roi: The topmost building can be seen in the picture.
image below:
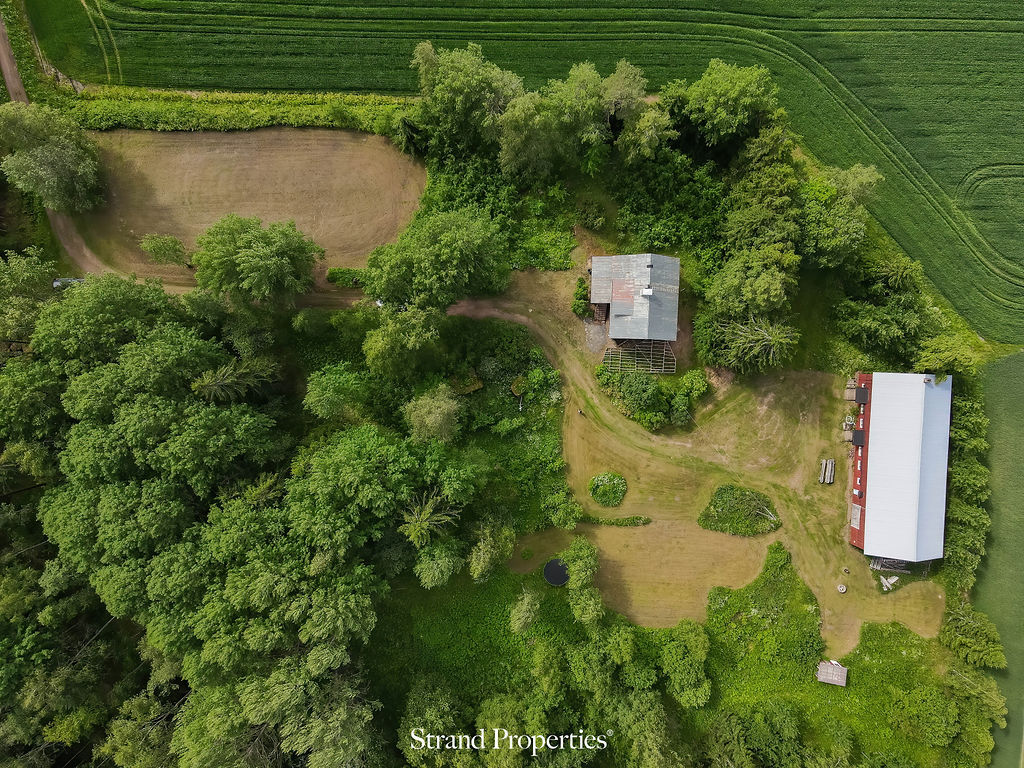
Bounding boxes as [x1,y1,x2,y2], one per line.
[590,253,679,342]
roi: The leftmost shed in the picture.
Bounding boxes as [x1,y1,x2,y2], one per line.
[452,372,484,394]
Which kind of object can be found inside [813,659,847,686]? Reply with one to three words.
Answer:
shed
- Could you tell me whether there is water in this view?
No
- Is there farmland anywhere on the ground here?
Yes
